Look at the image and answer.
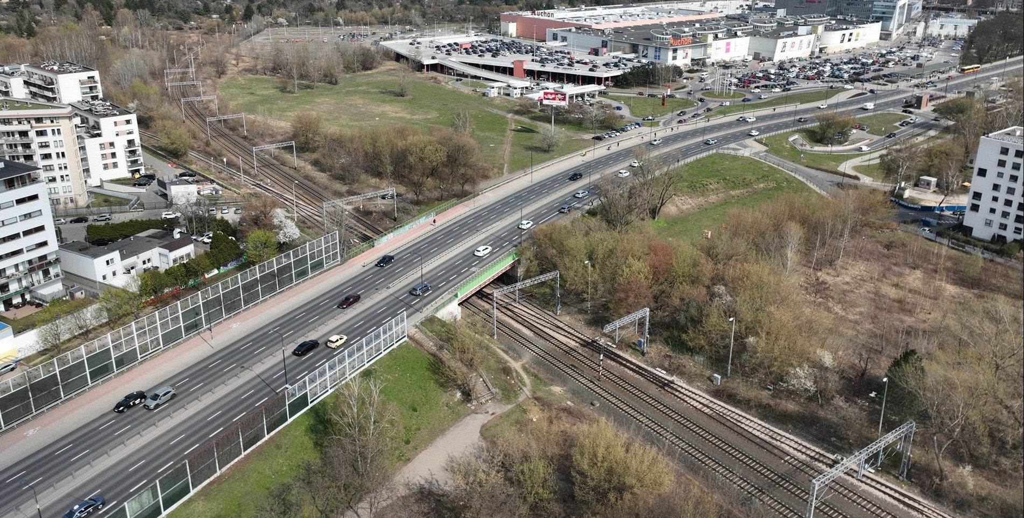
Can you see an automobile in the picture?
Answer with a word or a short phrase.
Yes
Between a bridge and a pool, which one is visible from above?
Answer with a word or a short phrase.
bridge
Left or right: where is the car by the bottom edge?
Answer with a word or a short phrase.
left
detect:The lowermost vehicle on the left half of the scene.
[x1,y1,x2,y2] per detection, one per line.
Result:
[60,490,107,518]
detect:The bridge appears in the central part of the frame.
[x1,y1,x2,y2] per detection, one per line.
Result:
[381,206,525,315]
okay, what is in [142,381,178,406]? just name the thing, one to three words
car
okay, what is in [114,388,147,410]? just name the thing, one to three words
car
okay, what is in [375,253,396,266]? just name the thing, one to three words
vehicle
